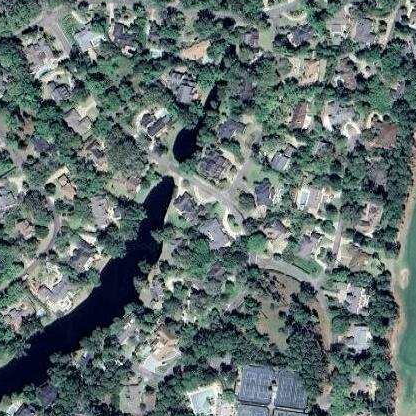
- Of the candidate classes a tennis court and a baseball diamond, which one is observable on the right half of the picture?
tennis court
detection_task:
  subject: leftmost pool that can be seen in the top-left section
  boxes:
[33,65,52,78]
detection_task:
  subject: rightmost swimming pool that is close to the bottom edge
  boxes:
[187,384,222,416]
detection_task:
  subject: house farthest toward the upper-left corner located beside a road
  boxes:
[26,35,57,69]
